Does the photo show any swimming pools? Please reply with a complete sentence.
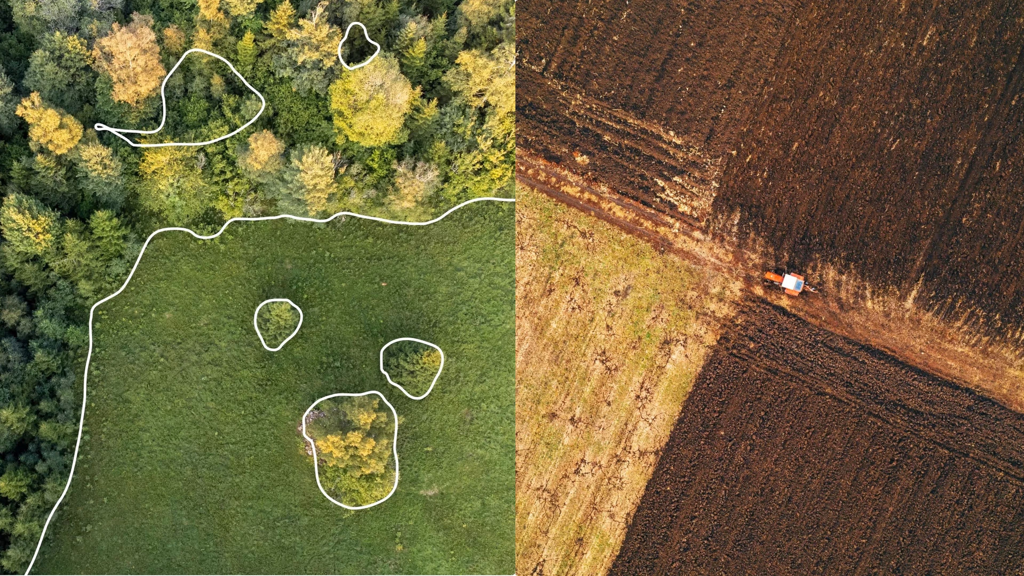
No, the frame has no swimming pool in it.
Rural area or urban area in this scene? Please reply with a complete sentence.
This place is rural.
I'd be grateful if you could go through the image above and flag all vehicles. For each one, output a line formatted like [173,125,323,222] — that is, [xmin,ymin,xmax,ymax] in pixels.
[761,271,804,298]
